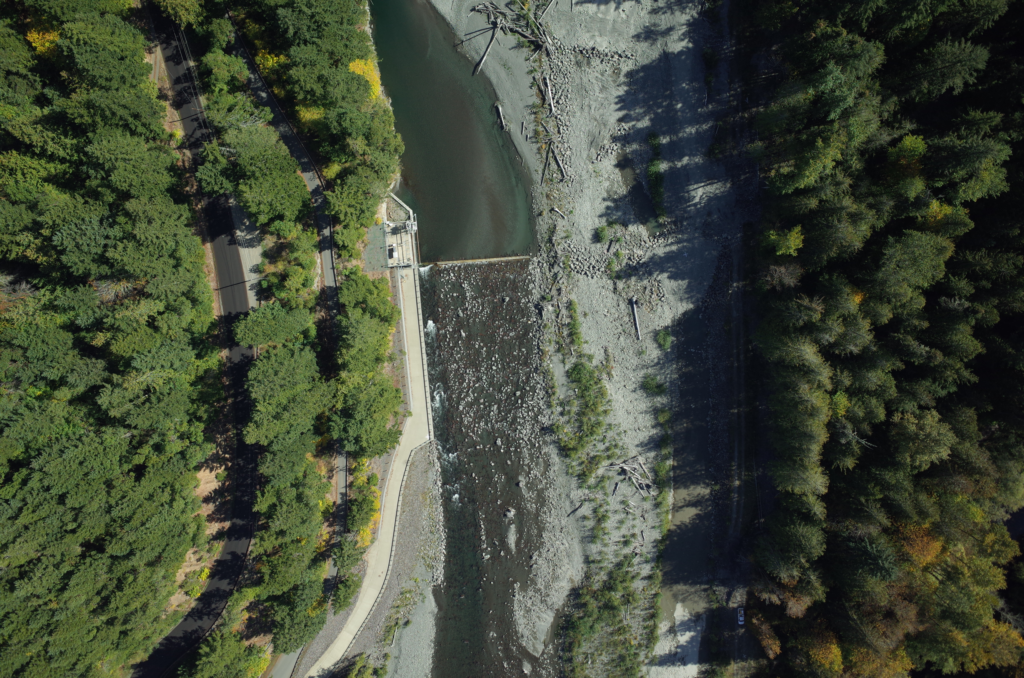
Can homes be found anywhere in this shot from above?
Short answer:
No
